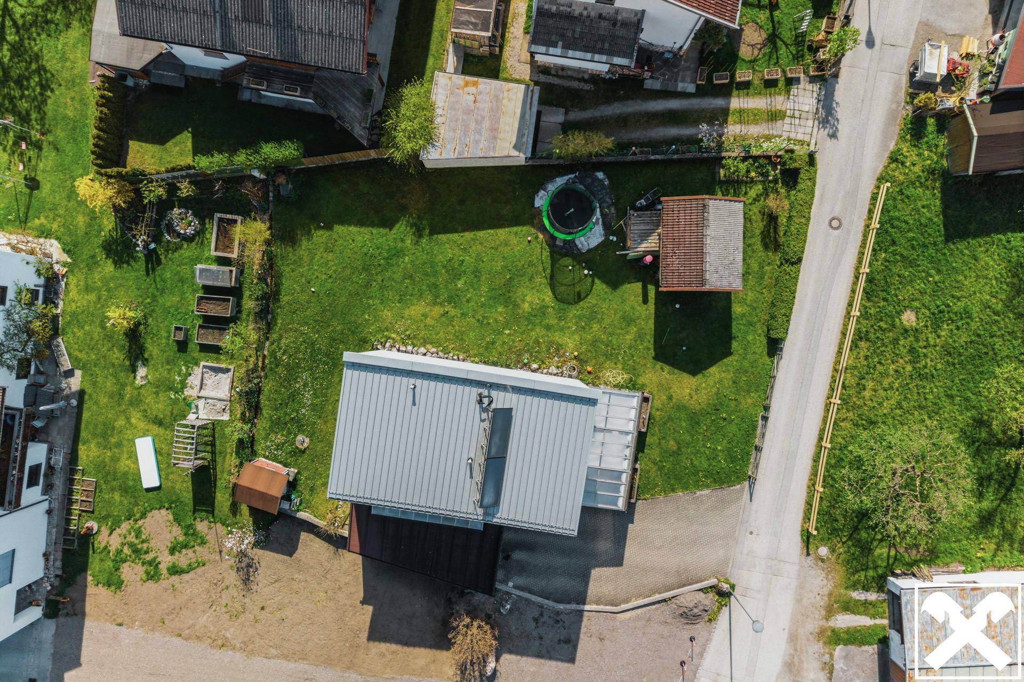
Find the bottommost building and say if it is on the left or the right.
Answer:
right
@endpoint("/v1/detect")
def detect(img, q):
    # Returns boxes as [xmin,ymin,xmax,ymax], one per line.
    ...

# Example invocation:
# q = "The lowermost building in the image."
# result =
[889,569,1024,682]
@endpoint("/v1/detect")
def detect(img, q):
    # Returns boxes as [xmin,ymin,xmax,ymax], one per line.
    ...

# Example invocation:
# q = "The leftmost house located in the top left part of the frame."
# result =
[90,0,386,145]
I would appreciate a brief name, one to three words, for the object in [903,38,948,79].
trailer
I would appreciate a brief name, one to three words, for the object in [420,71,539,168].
building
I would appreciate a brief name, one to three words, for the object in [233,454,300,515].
shed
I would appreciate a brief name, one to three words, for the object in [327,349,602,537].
house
